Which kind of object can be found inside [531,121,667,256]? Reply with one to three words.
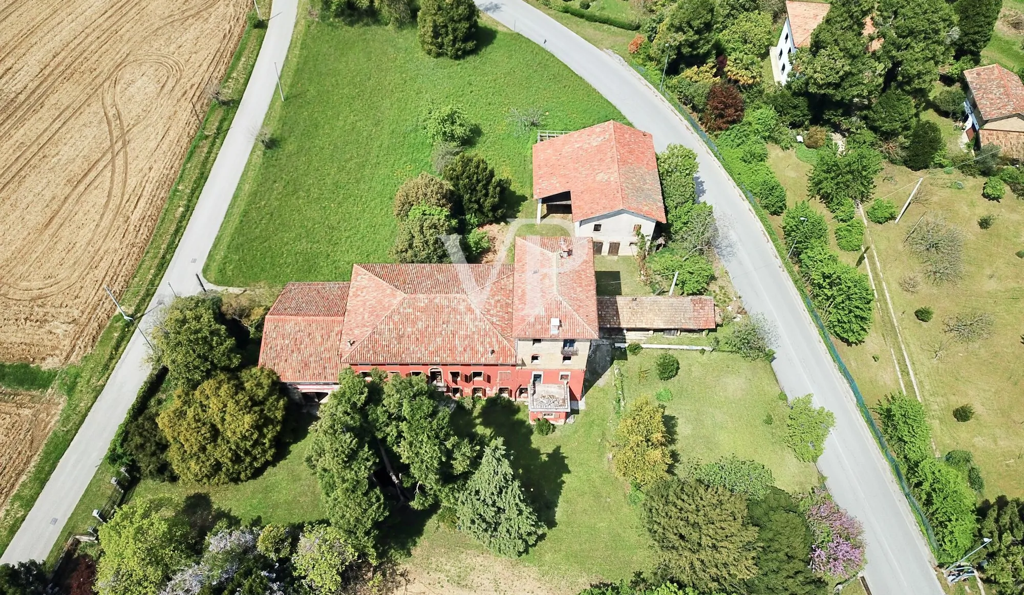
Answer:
barn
